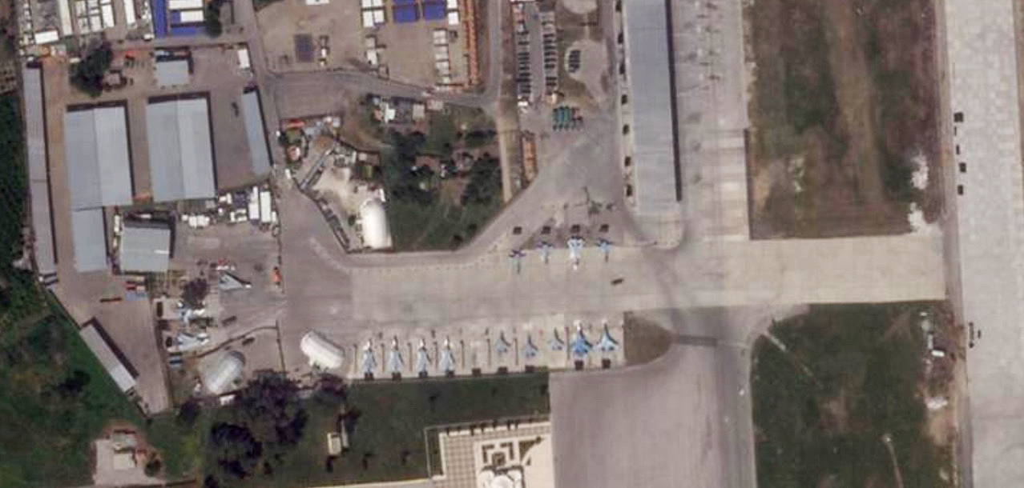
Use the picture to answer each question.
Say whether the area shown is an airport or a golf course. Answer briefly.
airport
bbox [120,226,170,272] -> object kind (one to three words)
shed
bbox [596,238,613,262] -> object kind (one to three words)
airplane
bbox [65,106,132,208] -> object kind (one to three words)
building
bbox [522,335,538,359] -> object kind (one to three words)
airplane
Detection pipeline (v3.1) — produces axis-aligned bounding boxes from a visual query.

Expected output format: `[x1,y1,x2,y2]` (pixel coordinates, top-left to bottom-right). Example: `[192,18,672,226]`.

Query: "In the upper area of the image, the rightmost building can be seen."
[623,0,678,214]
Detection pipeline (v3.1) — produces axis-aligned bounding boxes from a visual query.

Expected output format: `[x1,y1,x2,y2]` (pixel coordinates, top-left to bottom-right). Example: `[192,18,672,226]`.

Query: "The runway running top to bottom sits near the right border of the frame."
[947,0,1024,488]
